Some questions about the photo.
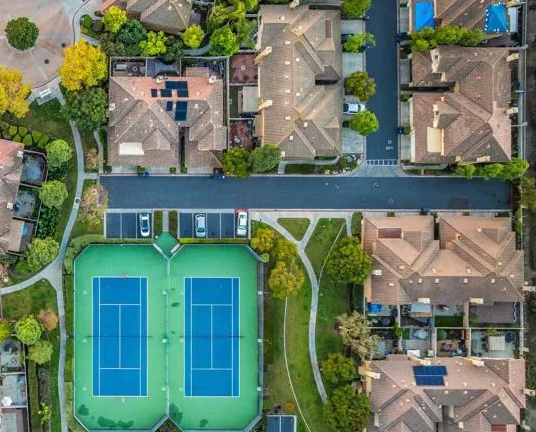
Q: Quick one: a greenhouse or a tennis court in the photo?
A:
tennis court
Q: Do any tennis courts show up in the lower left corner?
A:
Yes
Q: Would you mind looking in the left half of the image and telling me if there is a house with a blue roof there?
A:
No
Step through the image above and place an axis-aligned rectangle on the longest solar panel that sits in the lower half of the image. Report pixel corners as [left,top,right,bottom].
[414,367,447,384]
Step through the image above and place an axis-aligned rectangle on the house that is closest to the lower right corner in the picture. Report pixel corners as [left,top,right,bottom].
[357,352,535,432]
